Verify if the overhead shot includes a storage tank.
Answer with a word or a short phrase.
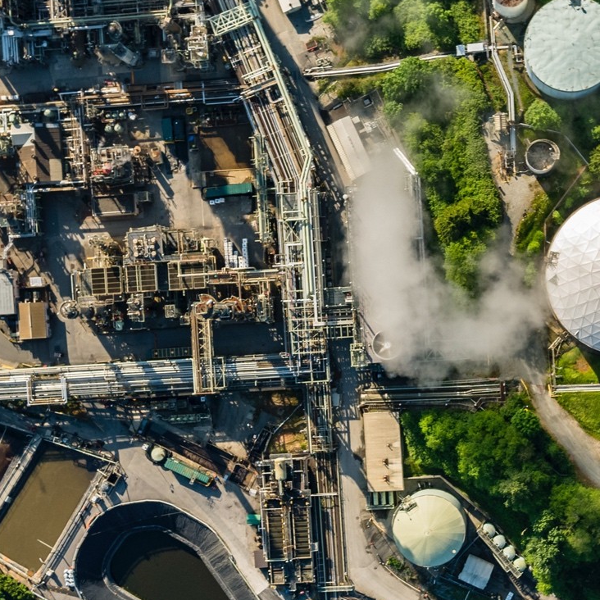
Yes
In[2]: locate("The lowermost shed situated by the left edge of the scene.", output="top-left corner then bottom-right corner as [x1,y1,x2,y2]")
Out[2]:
[18,301,53,339]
